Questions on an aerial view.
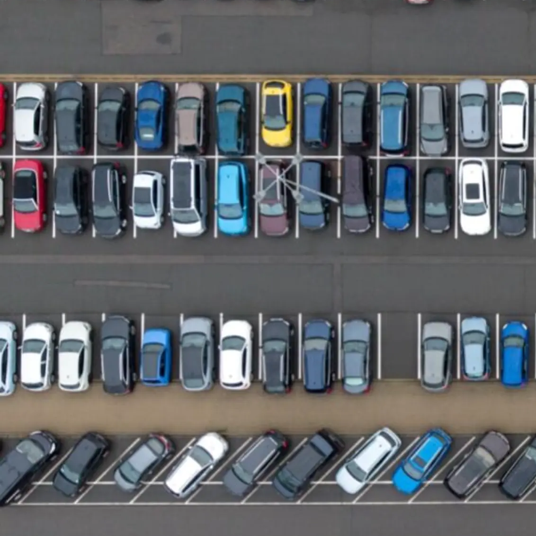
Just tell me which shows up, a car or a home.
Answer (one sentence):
The one in the frame is a car.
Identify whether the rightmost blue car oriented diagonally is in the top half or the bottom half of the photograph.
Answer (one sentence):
Seen from above, the rightmost blue car oriented diagonally lies in the bottom half of the view.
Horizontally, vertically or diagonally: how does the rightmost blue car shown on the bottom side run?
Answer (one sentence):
The rightmost blue car shown on the bottom side has been laid out vertically relative to the frame.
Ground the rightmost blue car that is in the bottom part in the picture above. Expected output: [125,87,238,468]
[498,321,530,387]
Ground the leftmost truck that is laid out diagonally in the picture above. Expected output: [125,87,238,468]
[0,427,65,515]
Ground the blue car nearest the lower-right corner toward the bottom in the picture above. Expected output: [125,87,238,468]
[394,425,453,495]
